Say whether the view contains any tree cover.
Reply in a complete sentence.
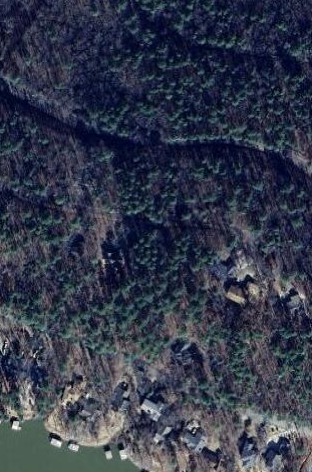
Yes, tree cover shows up in the scene.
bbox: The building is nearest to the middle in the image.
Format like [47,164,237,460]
[104,244,123,265]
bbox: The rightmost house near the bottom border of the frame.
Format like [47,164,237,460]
[260,440,293,467]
